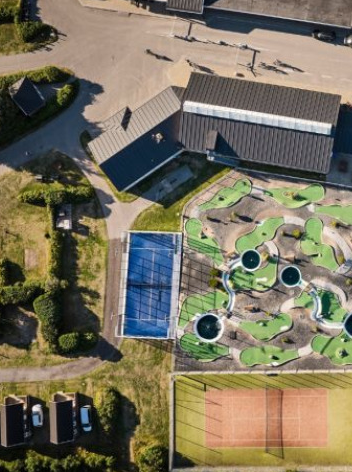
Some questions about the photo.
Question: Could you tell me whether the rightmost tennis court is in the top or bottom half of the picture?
bottom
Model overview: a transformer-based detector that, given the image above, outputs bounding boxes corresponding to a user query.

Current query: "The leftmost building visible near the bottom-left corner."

[0,391,35,448]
